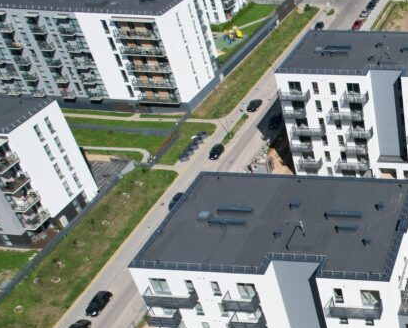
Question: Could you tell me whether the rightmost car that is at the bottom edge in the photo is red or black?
black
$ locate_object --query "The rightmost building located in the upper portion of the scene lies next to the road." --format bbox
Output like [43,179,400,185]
[275,26,408,180]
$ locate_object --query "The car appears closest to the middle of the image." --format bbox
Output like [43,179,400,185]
[207,145,225,158]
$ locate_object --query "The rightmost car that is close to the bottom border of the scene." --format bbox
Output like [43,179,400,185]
[80,291,114,317]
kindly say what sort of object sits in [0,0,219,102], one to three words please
building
